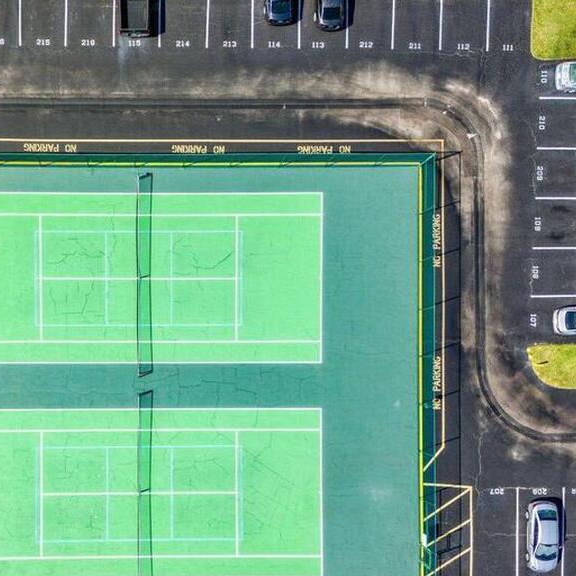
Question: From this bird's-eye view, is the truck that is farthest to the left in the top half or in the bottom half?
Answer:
top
